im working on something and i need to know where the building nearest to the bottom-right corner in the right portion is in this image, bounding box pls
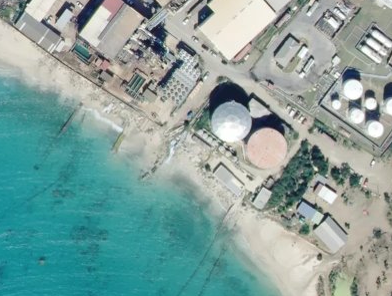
[313,214,351,254]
